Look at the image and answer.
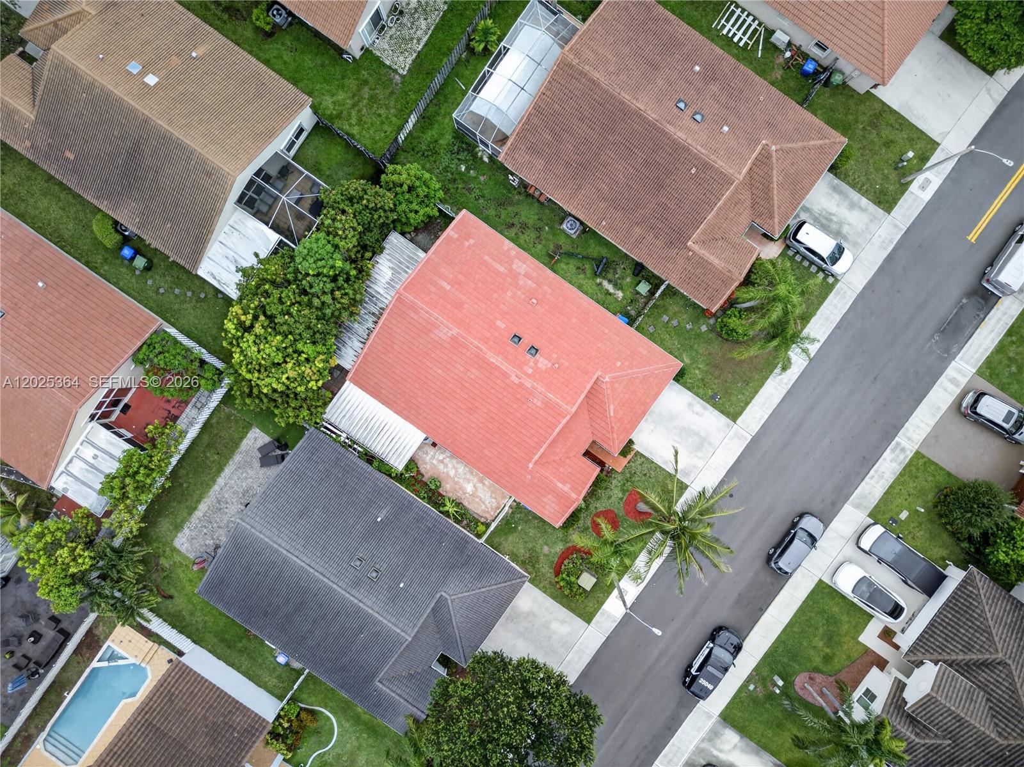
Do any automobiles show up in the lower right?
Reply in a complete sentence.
Yes, looking in the lower right, one can make out an automobile.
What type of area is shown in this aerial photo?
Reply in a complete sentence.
The area seen from above is a residential area.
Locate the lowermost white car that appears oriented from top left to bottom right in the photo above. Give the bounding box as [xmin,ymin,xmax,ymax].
[831,561,909,626]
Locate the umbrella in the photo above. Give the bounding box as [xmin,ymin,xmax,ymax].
[1,679,27,697]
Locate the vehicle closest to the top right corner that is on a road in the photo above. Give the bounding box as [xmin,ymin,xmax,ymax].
[985,223,1024,297]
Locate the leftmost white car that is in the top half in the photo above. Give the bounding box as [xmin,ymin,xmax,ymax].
[784,217,859,278]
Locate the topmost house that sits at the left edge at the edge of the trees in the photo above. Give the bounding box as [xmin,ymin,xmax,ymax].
[0,0,316,276]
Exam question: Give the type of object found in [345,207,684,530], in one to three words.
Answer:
house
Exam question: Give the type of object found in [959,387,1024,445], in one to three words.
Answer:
car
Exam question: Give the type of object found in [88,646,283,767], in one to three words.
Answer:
house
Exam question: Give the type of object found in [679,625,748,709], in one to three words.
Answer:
car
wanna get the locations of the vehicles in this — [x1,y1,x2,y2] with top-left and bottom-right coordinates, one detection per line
[784,217,859,278]
[959,387,1024,445]
[985,223,1024,297]
[852,520,948,599]
[767,512,829,583]
[679,625,748,709]
[831,561,909,626]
